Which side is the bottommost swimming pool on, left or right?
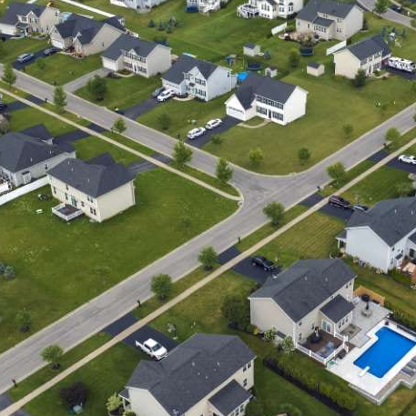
right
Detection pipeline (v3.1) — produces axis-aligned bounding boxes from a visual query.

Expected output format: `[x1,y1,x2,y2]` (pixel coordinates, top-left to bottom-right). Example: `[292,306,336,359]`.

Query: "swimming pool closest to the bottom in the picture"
[325,318,416,394]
